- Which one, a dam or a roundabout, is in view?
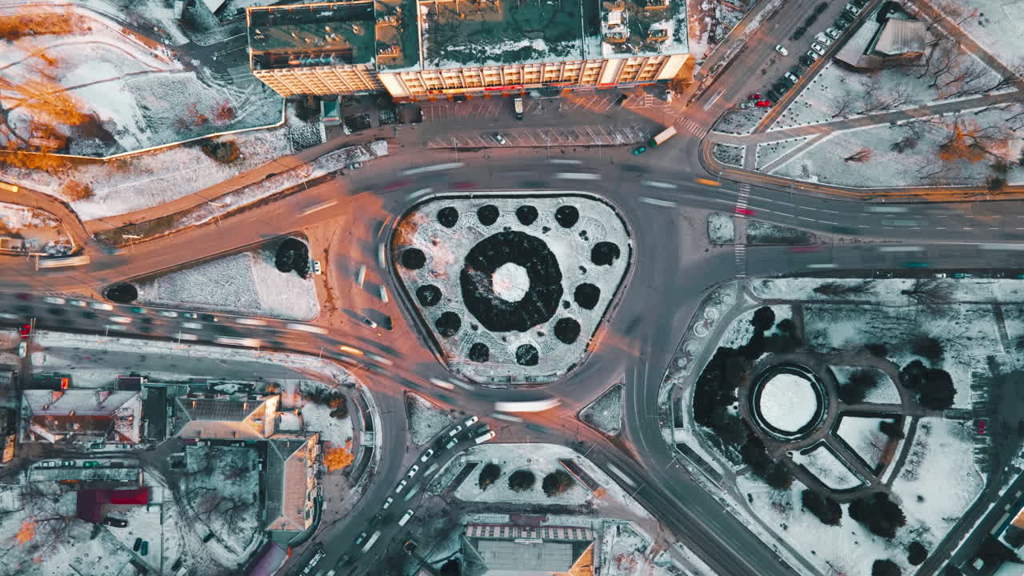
roundabout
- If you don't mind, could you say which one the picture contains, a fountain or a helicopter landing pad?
fountain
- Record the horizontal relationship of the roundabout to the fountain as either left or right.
left of it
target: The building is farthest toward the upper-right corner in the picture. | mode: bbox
[833,19,926,69]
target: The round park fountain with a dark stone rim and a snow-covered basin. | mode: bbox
[750,364,828,441]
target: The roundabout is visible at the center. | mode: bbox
[387,191,637,389]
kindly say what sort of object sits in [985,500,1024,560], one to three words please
house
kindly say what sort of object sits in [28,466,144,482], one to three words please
shed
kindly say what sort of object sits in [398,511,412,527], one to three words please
vehicle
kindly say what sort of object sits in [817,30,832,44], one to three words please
vehicle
